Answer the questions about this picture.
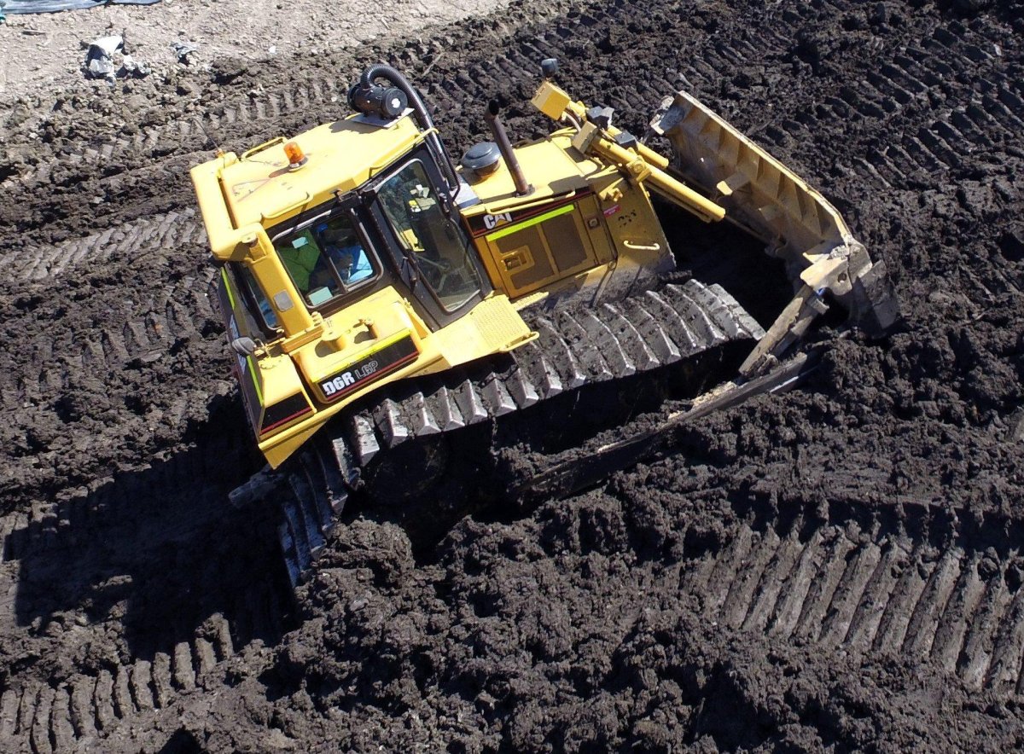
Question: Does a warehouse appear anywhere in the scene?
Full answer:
No, I can't see a single warehouse in this photo.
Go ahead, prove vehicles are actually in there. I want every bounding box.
[162,56,900,597]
